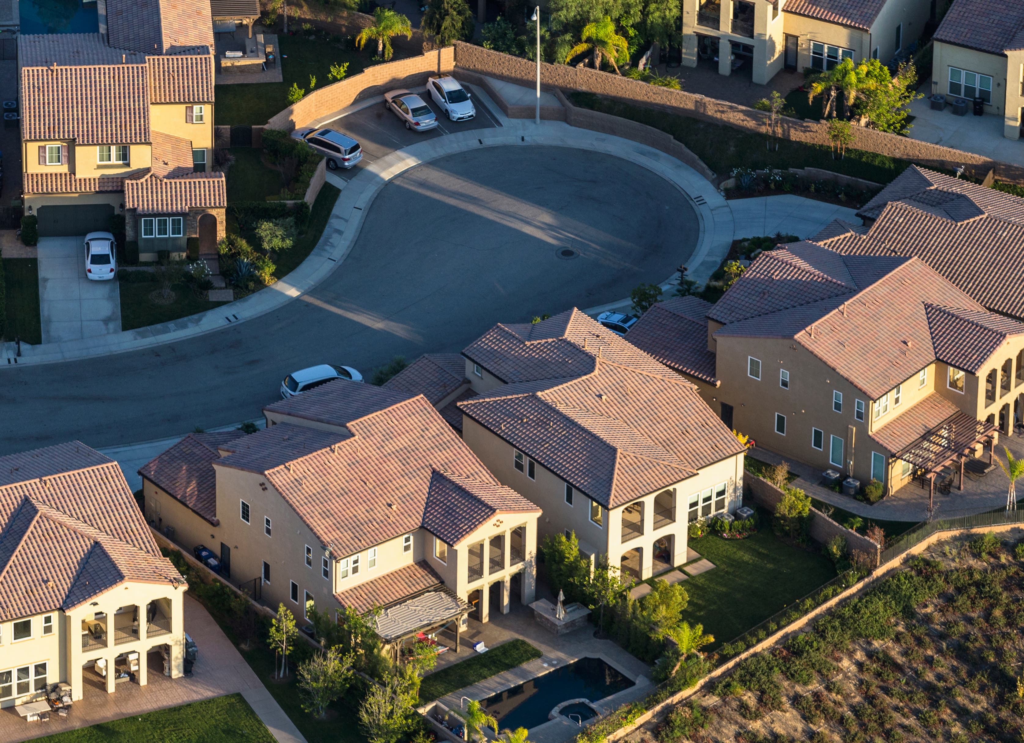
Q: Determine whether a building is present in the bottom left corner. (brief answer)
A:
Yes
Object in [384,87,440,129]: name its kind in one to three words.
car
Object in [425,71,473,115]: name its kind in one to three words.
car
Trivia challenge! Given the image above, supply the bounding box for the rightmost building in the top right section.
[931,0,1024,141]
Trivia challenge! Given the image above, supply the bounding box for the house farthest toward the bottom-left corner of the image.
[0,438,191,709]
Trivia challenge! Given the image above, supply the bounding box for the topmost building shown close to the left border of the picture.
[20,0,228,261]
